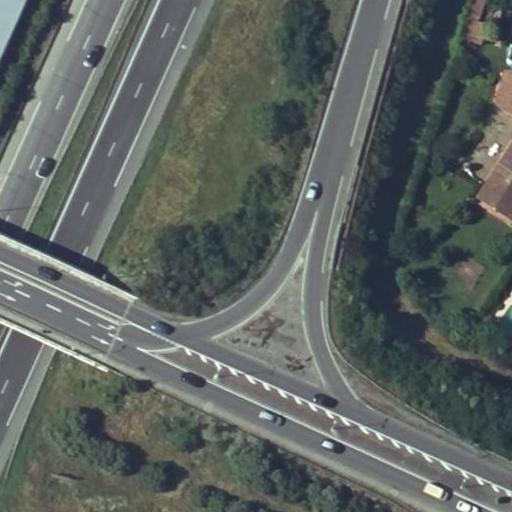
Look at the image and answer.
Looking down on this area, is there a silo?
No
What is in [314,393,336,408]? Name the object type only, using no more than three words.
car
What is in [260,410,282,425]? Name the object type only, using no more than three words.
car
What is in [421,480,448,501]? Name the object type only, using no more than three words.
vehicle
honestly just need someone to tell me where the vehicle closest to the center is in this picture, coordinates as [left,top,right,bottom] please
[306,180,320,201]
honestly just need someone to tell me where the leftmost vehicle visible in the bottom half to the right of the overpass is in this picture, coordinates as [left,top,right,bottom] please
[152,320,173,336]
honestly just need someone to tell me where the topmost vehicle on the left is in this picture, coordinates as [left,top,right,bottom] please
[86,46,100,66]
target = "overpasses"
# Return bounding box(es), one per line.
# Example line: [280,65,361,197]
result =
[0,236,138,377]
